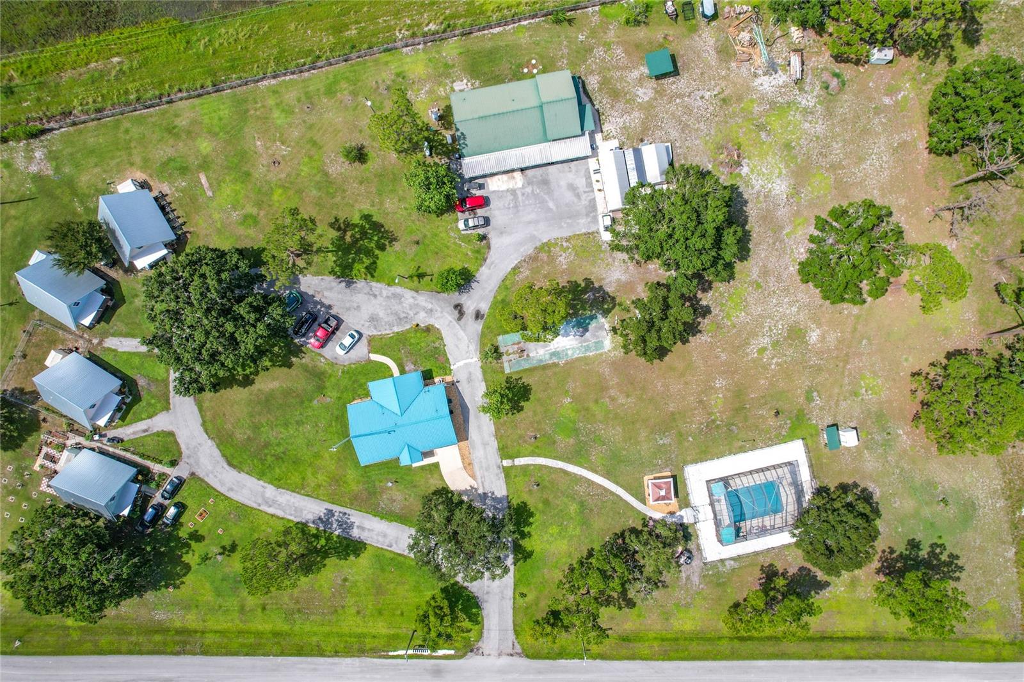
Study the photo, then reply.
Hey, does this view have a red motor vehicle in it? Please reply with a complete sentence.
Yes, you can see a red motor vehicle in this photo.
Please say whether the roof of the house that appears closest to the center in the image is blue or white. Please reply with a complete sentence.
The color of the roof of the house that appears closest to the center is blue.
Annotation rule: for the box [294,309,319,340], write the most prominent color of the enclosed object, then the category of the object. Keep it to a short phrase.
black car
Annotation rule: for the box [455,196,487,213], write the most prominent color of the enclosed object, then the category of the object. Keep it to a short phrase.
red car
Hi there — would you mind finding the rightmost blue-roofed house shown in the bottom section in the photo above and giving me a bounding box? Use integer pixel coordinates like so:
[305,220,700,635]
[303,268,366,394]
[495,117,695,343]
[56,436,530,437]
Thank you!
[347,371,457,466]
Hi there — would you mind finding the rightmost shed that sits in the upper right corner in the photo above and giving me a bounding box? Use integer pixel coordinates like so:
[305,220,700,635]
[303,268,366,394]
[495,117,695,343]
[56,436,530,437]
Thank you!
[867,47,894,65]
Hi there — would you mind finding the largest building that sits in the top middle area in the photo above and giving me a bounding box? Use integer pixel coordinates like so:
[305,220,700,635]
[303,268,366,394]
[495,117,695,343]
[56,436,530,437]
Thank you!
[450,69,595,181]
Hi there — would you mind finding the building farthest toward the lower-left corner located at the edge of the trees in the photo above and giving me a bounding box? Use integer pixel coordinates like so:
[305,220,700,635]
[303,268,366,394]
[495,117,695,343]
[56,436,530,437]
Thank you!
[48,440,153,525]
